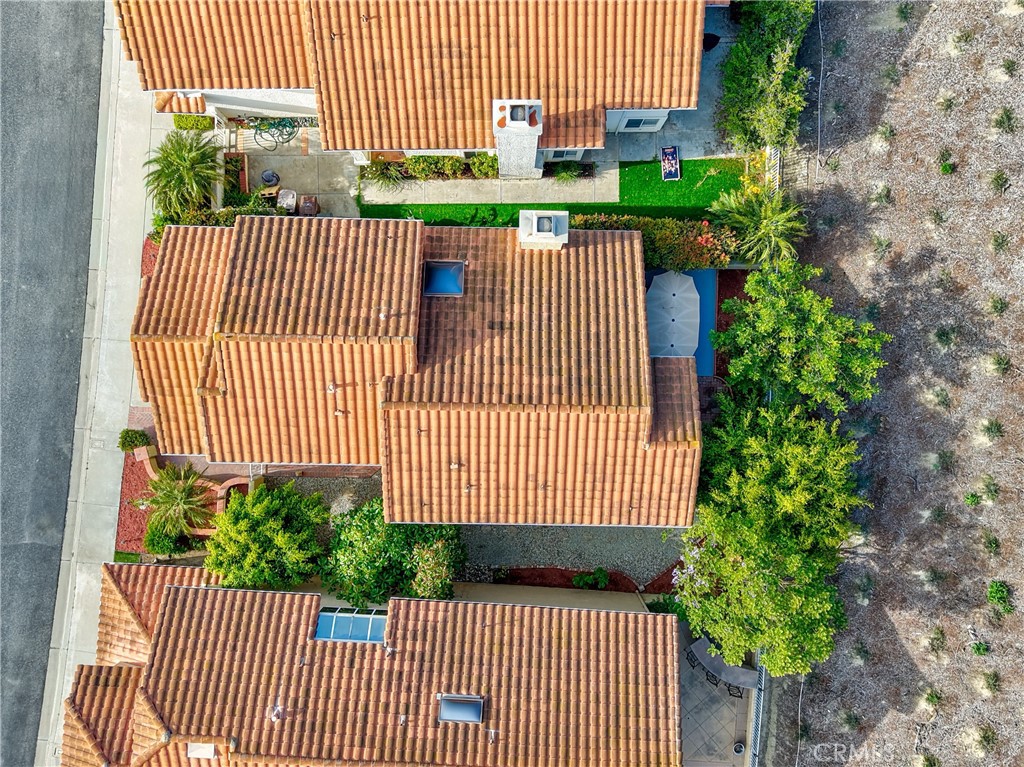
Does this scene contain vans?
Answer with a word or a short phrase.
No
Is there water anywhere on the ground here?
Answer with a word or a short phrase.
No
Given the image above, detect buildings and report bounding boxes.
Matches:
[60,558,685,767]
[112,0,735,179]
[129,208,704,531]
